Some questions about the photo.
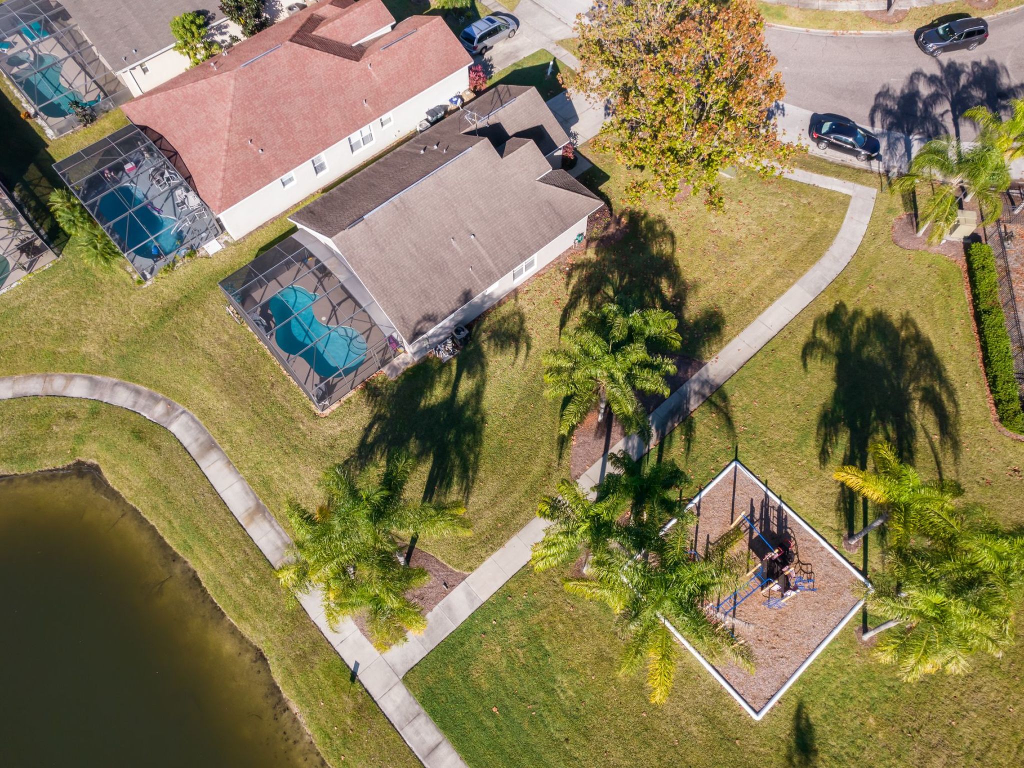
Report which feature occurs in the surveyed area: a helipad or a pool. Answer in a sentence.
This aerial view contains a pool.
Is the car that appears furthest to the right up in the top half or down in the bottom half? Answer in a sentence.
The car that appears furthest to the right sits in the top half of the picture.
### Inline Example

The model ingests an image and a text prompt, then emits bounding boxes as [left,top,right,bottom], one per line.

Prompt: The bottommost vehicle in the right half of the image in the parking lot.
[811,121,879,162]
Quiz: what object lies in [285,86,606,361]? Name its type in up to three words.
house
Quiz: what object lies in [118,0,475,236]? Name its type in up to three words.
house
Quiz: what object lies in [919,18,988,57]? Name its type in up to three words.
car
